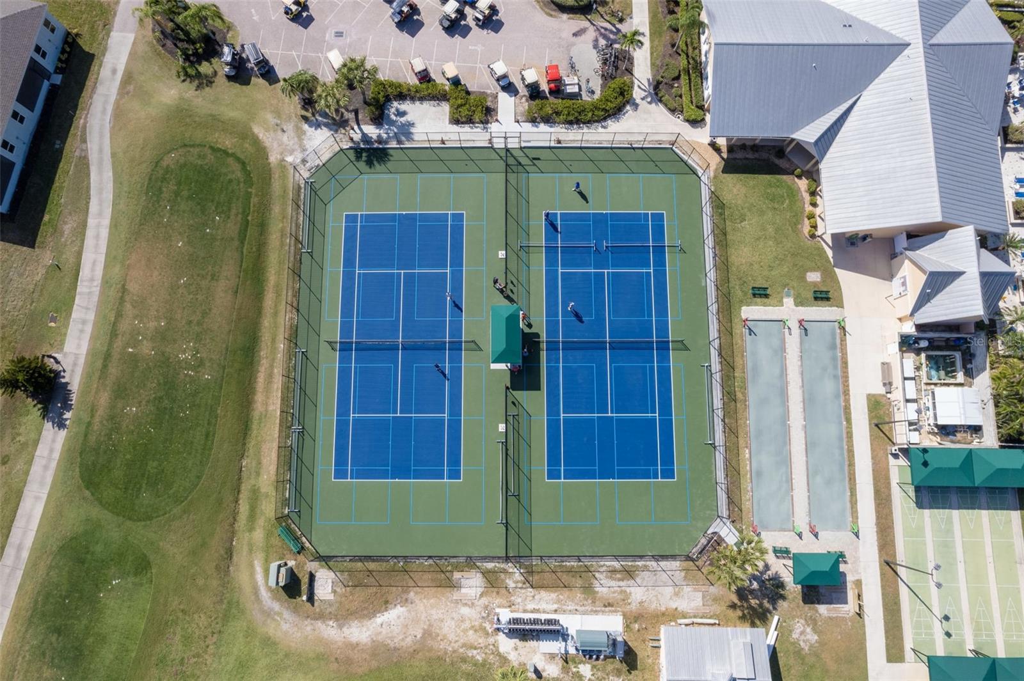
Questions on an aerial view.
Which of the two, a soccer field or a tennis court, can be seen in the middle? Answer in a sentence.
The one visible in the middle is a tennis court.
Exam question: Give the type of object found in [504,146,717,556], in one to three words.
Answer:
tennis court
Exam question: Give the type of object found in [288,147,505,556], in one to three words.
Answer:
tennis court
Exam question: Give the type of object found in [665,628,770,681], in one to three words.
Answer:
shed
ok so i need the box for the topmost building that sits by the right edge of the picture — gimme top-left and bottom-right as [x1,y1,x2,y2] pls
[692,0,1015,246]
